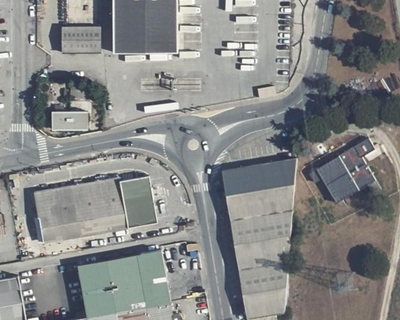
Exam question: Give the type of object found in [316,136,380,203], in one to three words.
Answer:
house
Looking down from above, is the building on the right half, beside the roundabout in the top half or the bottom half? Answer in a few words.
bottom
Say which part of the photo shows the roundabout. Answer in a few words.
center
